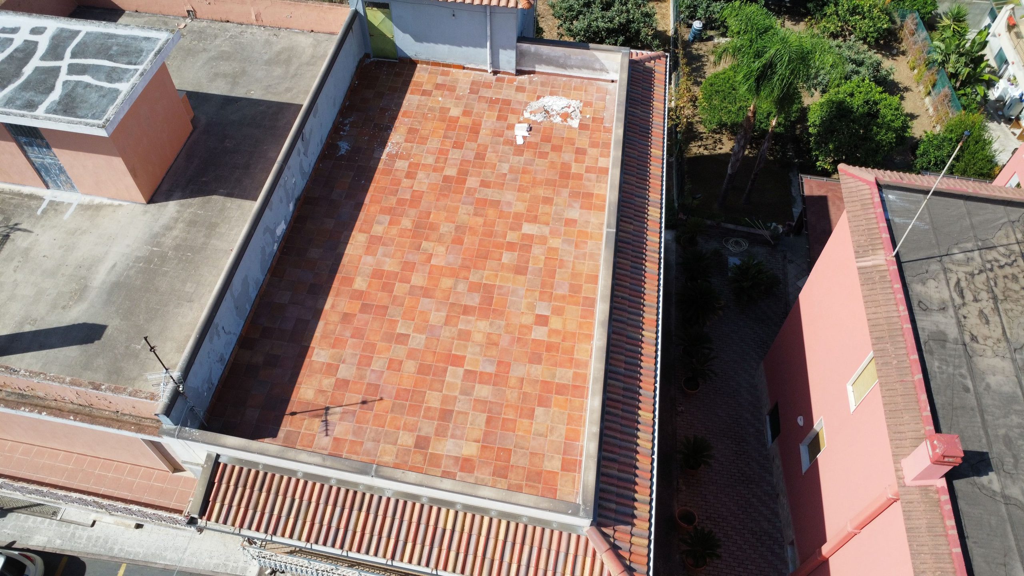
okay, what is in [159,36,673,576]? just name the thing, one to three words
house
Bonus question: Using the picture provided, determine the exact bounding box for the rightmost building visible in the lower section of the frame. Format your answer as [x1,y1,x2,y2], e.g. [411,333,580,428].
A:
[763,157,1024,576]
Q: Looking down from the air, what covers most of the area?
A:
buildings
